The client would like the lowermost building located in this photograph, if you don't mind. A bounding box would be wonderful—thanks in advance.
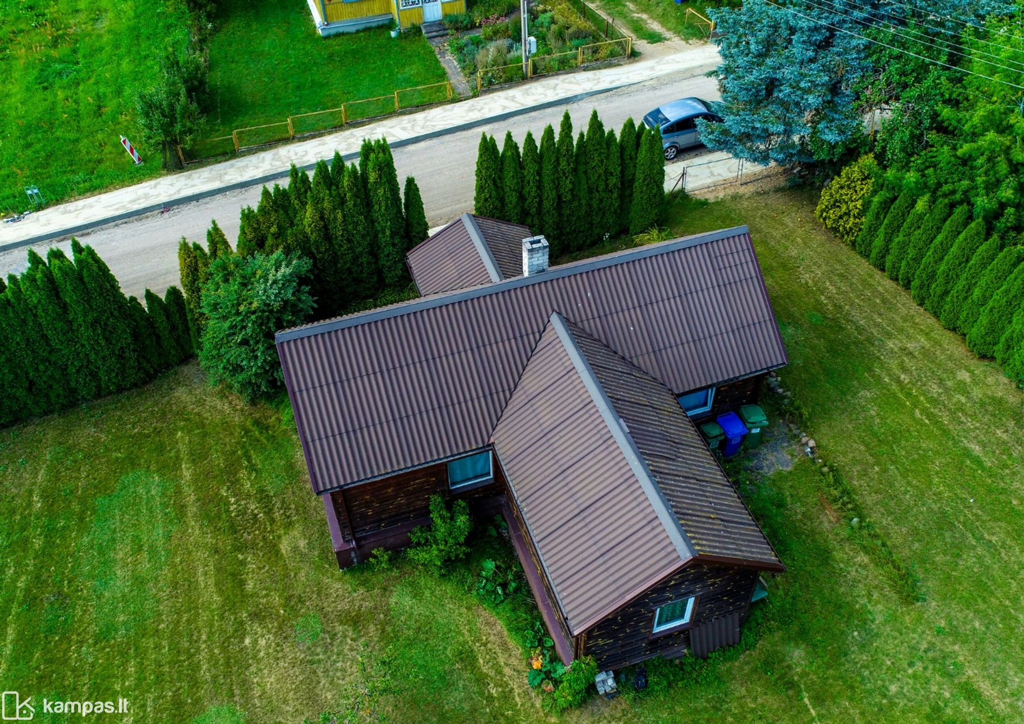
[275,210,789,692]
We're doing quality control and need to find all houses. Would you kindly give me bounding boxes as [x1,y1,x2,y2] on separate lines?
[296,0,470,35]
[275,210,789,692]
